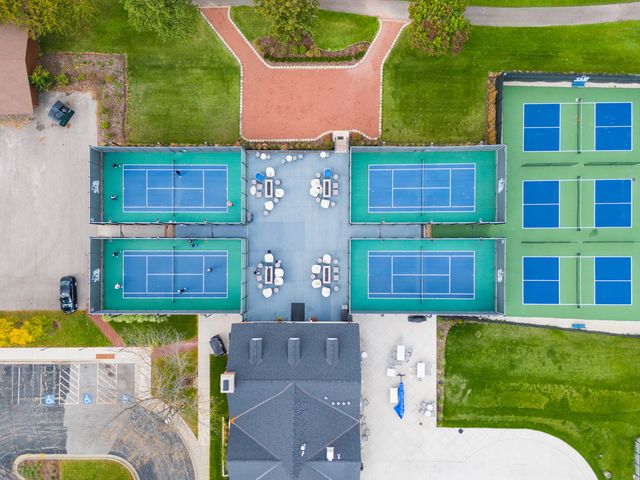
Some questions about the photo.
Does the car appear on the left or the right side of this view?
left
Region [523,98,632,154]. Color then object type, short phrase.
blue sports court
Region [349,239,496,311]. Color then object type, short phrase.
blue tennis court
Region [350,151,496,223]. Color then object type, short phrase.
blue tennis court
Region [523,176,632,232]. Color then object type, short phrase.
blue sports court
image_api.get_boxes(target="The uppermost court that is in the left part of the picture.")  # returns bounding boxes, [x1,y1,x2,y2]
[104,152,246,223]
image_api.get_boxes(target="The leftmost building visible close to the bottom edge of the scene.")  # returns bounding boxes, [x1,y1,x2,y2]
[221,321,364,480]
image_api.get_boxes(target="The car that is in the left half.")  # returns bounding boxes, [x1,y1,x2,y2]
[58,276,78,314]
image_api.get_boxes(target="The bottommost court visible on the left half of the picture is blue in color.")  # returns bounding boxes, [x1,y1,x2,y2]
[104,239,247,311]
